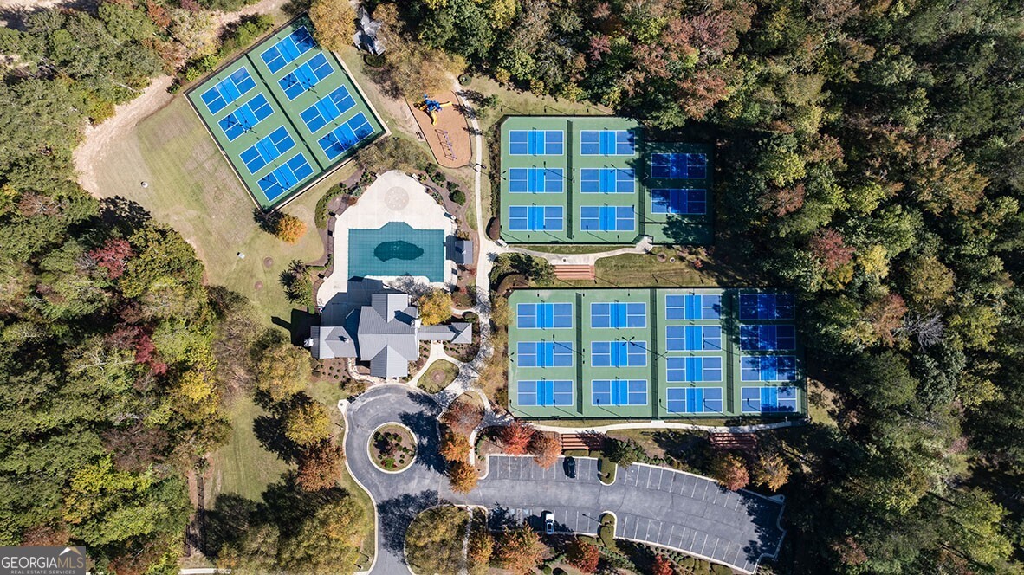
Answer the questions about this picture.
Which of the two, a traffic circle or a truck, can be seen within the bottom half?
traffic circle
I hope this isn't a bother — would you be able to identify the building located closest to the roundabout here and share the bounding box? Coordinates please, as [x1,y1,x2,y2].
[306,293,472,380]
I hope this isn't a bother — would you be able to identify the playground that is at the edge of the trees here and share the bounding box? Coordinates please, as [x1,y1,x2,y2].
[404,86,472,168]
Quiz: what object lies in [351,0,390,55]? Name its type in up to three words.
building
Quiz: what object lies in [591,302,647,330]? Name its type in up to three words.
sports court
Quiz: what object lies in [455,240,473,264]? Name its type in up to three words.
building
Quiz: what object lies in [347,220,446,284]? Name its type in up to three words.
swimming pool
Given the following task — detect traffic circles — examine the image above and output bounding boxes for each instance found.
[344,386,445,497]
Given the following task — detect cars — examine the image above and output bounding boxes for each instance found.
[567,459,576,478]
[546,514,554,534]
